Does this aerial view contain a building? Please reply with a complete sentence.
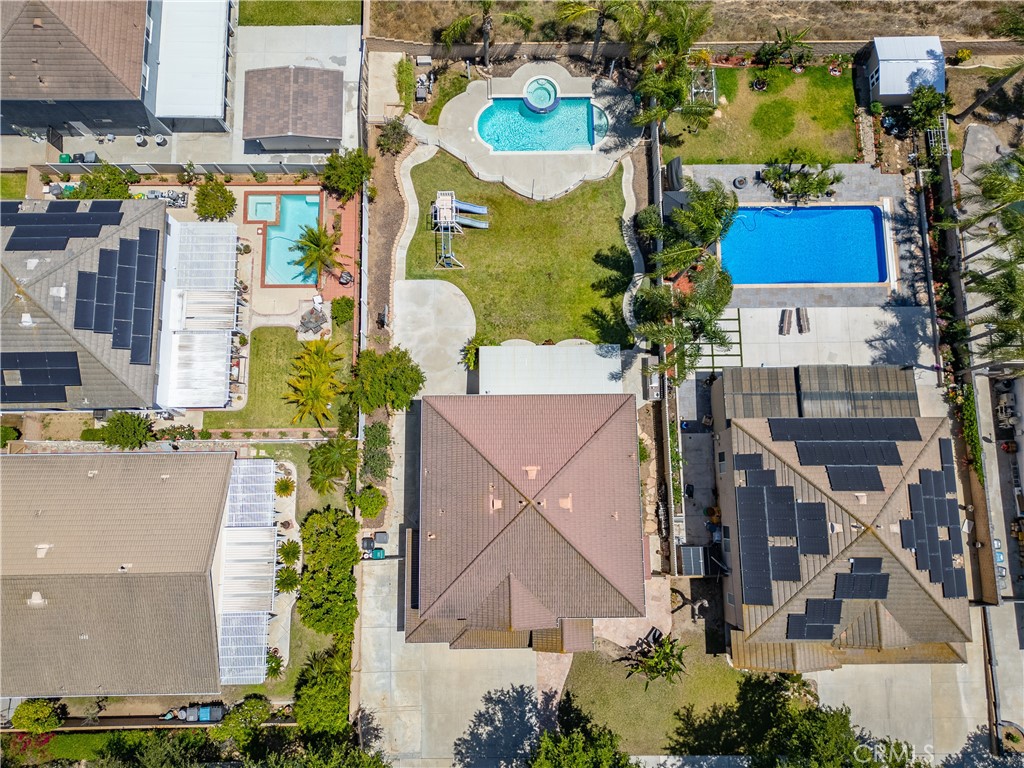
Yes, the frame does contain a building.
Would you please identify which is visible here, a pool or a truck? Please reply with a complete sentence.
Looking from above, you can make out a pool.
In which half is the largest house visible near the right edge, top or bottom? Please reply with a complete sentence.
The largest house visible near the right edge is in the bottom half of the image.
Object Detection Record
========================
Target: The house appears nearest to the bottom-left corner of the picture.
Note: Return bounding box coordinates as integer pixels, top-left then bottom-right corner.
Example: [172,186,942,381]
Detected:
[0,451,235,699]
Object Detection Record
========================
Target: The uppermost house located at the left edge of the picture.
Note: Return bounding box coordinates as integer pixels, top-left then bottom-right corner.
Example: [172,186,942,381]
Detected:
[0,0,169,133]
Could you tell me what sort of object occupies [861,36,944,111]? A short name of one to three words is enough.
shed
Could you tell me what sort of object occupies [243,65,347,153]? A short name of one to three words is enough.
shed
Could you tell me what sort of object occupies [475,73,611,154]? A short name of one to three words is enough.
swimming pool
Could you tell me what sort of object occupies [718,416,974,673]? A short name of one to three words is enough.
house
